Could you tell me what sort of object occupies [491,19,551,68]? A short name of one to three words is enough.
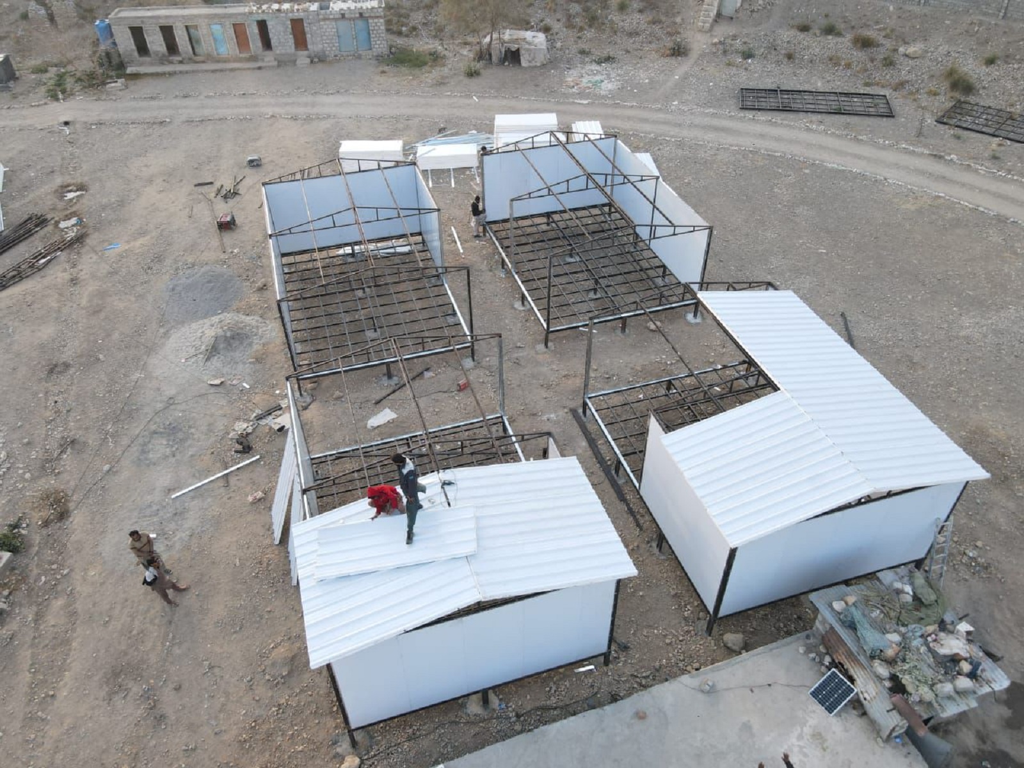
shed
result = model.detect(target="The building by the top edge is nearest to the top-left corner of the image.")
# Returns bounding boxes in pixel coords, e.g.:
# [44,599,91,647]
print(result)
[106,0,389,75]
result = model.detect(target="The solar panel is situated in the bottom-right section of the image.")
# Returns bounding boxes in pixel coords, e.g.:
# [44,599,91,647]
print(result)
[809,670,854,714]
